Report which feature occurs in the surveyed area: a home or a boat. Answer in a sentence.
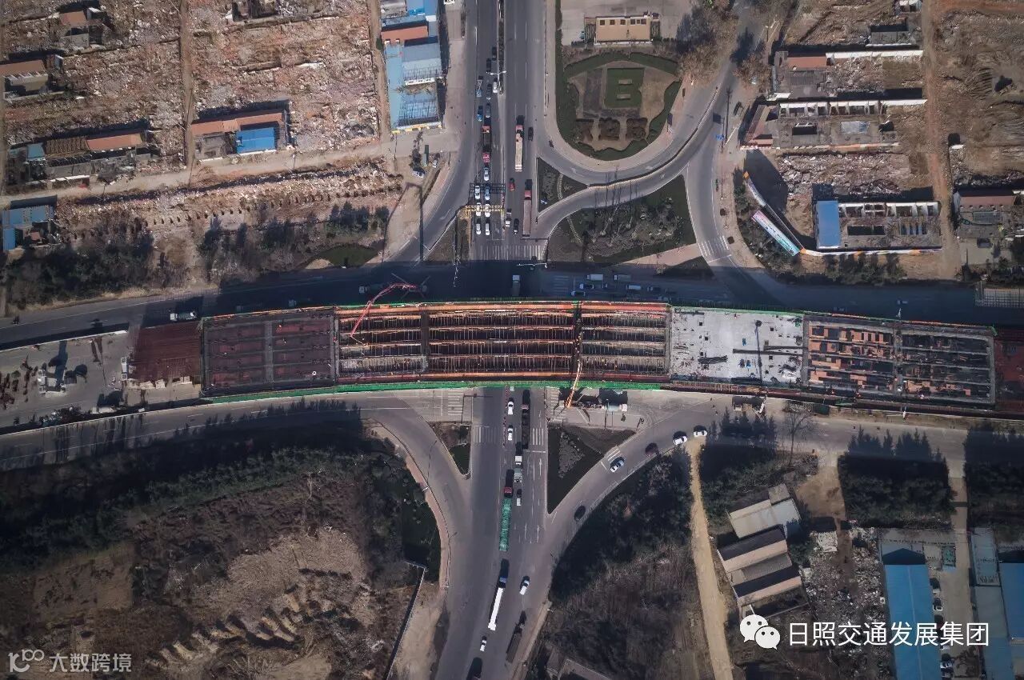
I can see a home in this picture.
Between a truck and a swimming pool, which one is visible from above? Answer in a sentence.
Of the two, only a truck appears.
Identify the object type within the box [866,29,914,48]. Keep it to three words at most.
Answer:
shed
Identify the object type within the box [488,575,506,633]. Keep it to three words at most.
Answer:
vehicle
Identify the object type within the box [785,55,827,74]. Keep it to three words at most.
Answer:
house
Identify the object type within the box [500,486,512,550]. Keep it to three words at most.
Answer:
vehicle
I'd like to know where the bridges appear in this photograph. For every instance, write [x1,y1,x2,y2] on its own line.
[143,295,1024,421]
